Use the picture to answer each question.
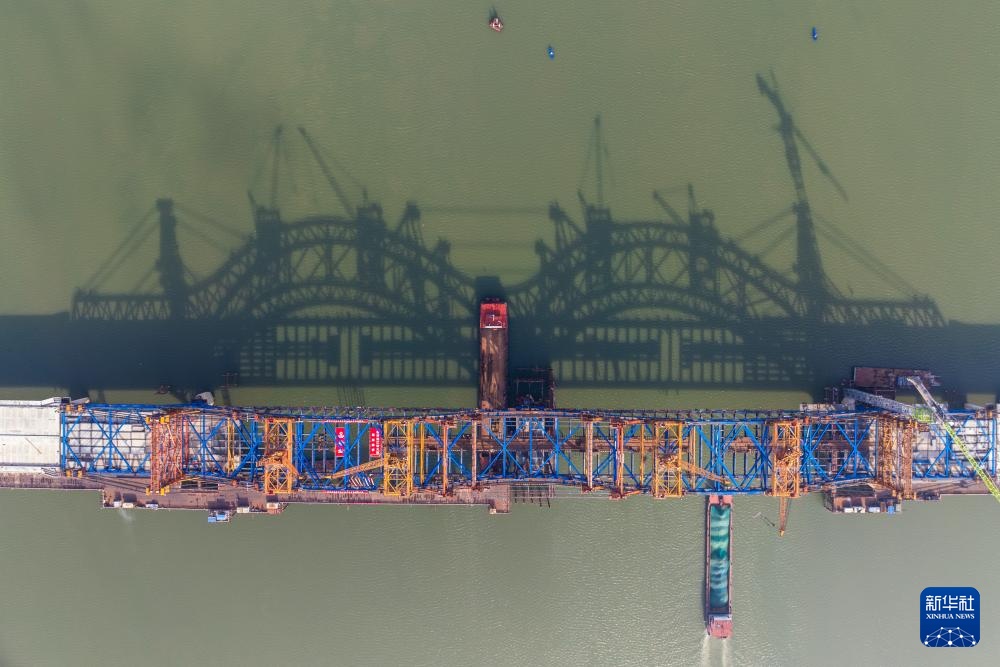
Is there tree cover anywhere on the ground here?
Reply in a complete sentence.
No, no tree cover is visible.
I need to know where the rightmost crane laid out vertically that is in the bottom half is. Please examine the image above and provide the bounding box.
[752,417,799,536]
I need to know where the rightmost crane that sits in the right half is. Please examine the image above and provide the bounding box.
[827,372,1000,503]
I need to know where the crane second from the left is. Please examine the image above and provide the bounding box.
[330,414,415,494]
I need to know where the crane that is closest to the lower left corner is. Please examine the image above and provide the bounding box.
[256,413,302,493]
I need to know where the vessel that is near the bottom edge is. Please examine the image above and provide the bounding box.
[707,479,733,639]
